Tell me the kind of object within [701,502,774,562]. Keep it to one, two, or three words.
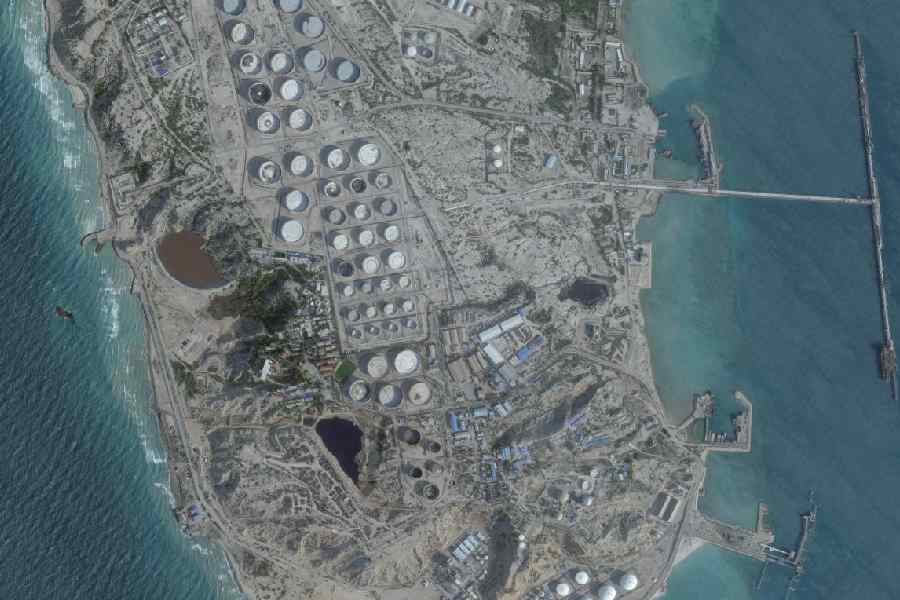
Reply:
pier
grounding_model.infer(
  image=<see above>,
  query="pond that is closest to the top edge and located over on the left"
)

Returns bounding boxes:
[159,232,233,289]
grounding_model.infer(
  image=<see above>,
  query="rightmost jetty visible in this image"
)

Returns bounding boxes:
[853,30,889,345]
